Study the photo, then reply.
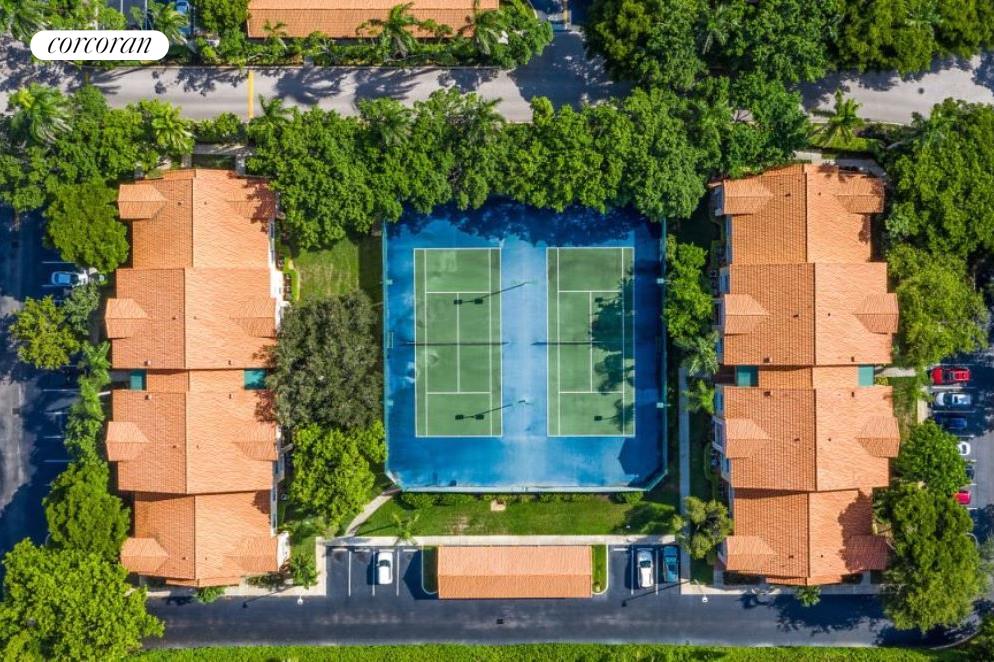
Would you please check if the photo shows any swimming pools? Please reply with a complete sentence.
No, no swimming pool is visible in the scene.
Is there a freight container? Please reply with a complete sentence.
No, there is no freight container in the image.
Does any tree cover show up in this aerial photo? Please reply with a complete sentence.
Yes, some tree cover is visible.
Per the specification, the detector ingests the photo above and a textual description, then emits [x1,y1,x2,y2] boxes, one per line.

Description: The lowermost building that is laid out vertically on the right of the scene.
[708,159,900,586]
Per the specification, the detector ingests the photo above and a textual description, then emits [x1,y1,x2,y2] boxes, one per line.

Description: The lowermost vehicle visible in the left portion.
[376,548,394,584]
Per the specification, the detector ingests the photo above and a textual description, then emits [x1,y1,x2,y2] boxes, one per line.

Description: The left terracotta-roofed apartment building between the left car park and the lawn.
[105,170,294,587]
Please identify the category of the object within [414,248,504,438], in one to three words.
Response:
tennis court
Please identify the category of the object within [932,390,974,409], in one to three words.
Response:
car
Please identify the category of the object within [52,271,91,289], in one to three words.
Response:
car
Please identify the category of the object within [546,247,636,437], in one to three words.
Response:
tennis court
